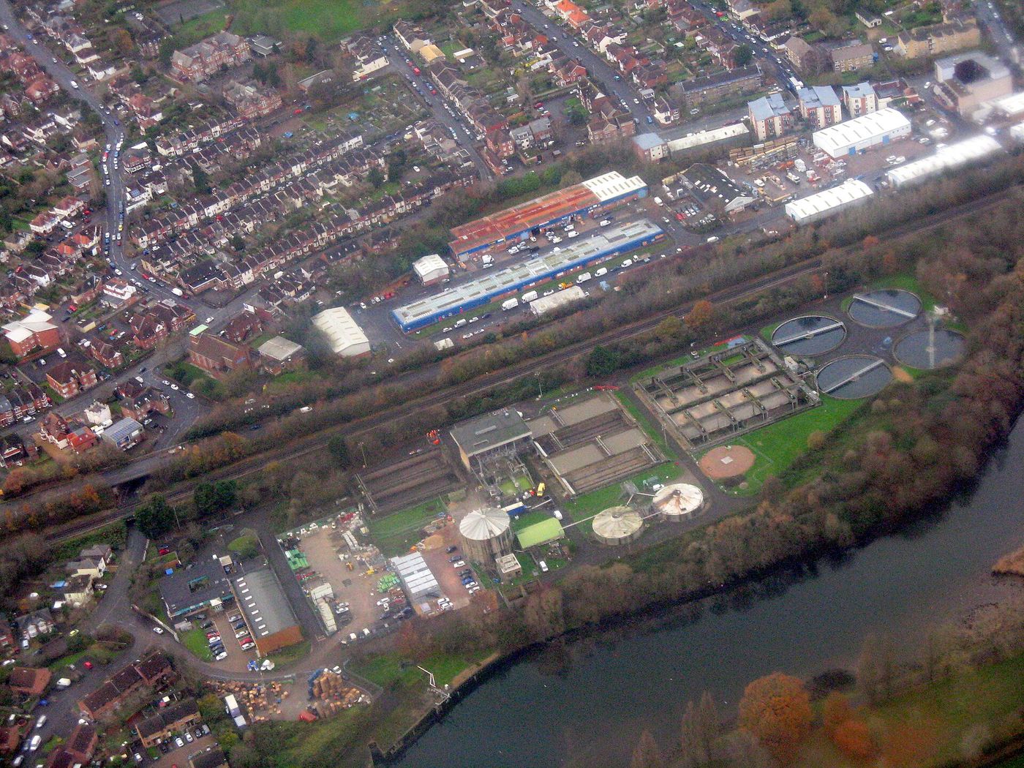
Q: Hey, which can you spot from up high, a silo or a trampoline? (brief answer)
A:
silo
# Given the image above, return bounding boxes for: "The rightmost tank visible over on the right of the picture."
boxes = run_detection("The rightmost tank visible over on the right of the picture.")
[893,326,969,373]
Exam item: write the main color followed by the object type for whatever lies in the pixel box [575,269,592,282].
white vehicle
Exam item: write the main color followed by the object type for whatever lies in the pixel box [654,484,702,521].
white storage tank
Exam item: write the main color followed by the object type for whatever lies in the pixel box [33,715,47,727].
white vehicle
